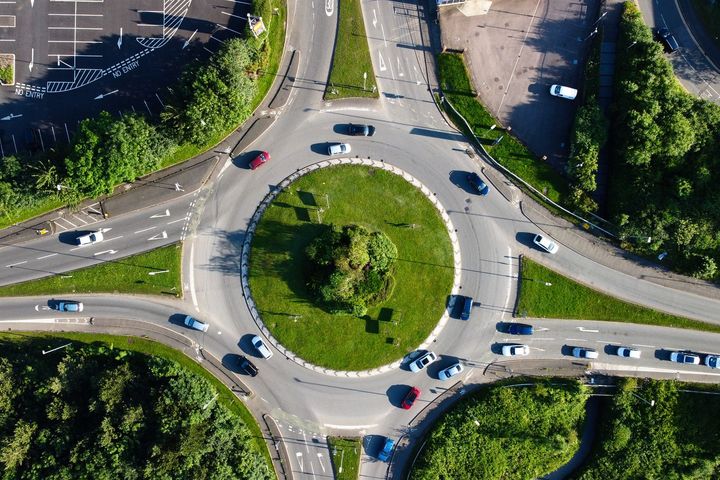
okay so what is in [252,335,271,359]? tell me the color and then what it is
white car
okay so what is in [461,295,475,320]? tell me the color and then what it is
blue vehicle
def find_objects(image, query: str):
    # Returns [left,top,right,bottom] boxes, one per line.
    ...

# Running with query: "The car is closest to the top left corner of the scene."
[77,231,104,246]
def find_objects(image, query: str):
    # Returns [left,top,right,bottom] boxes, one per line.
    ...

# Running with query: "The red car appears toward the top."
[249,150,271,170]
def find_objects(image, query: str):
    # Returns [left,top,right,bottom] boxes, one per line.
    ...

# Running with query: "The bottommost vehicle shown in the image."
[377,436,394,461]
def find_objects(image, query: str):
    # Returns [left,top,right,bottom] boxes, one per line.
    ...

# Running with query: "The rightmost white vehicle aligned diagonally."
[534,233,560,254]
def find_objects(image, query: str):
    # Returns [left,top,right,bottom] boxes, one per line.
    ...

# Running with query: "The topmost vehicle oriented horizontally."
[551,82,581,98]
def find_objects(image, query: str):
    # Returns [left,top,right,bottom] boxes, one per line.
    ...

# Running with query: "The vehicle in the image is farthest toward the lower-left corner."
[58,301,83,313]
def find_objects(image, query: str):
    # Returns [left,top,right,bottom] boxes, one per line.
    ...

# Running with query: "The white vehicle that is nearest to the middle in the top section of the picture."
[328,142,352,155]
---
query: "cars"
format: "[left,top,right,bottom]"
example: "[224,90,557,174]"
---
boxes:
[328,142,352,155]
[377,436,394,461]
[572,346,599,359]
[184,316,210,332]
[249,150,271,170]
[468,173,490,195]
[706,354,720,368]
[77,231,104,246]
[669,351,700,364]
[437,361,465,381]
[348,122,375,136]
[409,351,437,373]
[501,344,529,357]
[509,322,535,335]
[252,335,271,359]
[58,301,83,313]
[617,346,641,358]
[236,358,259,379]
[461,295,475,320]
[401,386,421,410]
[534,233,560,254]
